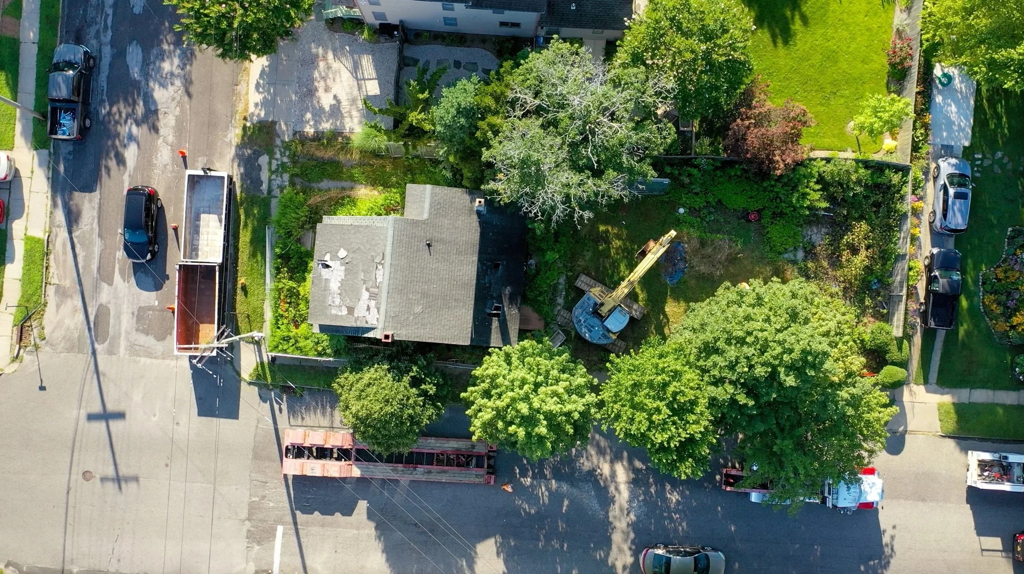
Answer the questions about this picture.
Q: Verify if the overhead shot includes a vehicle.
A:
Yes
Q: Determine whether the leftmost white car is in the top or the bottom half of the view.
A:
top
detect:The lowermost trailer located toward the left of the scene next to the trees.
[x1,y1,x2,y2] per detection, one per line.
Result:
[278,427,495,488]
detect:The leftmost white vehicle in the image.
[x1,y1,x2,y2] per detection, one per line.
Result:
[0,151,22,183]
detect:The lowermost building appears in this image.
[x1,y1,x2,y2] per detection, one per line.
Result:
[308,184,544,347]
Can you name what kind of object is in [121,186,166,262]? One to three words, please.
car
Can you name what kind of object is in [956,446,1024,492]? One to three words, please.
truck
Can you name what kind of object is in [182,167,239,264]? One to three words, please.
trailer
